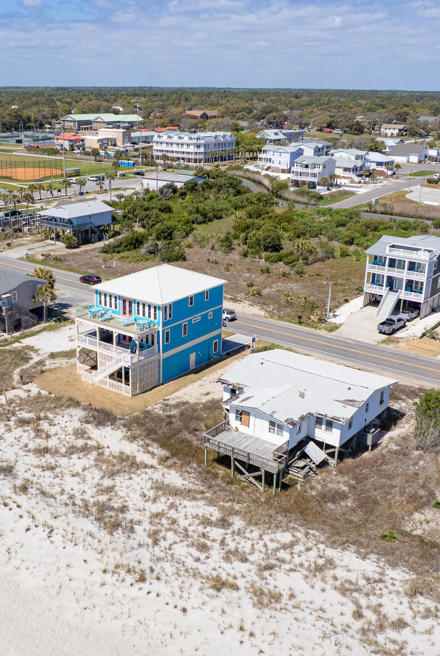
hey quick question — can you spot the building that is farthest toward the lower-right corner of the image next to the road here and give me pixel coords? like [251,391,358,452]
[203,353,394,494]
